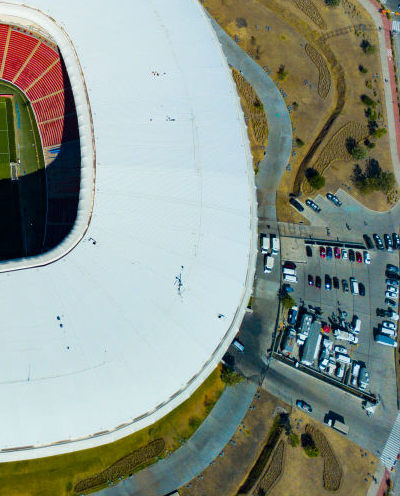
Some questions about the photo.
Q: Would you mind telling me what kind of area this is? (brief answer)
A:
sports ground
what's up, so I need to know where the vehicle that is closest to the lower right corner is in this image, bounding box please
[325,417,351,433]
